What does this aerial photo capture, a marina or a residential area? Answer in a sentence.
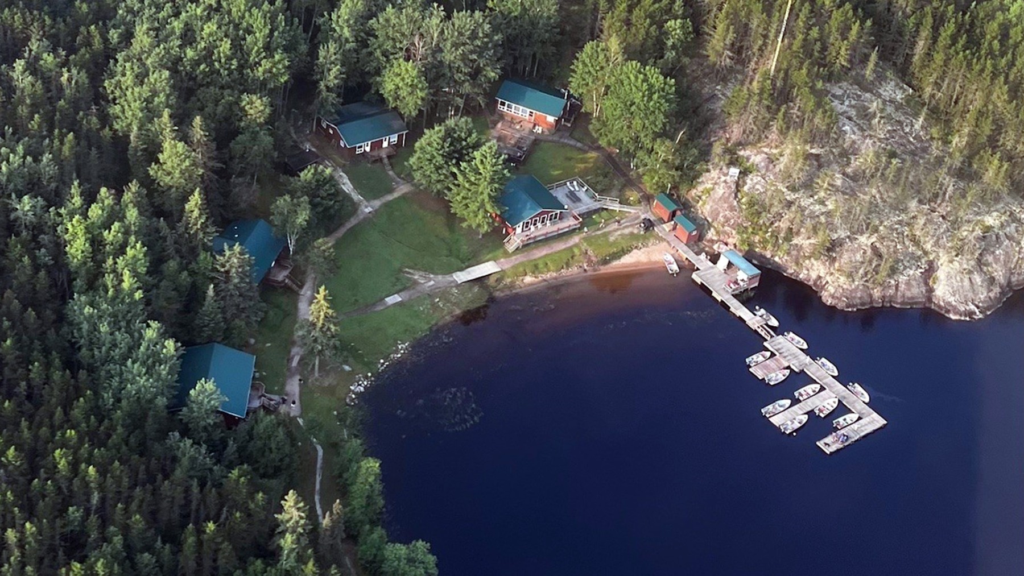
The picture captures a marina.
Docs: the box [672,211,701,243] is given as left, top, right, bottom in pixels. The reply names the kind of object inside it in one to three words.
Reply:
shed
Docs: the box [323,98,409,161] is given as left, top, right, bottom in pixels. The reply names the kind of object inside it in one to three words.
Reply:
building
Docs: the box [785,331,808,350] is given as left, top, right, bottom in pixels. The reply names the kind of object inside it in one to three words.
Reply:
boat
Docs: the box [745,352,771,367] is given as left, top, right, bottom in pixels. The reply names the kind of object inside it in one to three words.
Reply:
boat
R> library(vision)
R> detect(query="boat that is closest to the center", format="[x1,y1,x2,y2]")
[664,254,678,276]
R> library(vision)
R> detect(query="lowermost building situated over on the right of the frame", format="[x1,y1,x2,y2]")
[713,249,761,294]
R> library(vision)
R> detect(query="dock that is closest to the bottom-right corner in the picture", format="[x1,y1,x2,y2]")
[750,335,888,455]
